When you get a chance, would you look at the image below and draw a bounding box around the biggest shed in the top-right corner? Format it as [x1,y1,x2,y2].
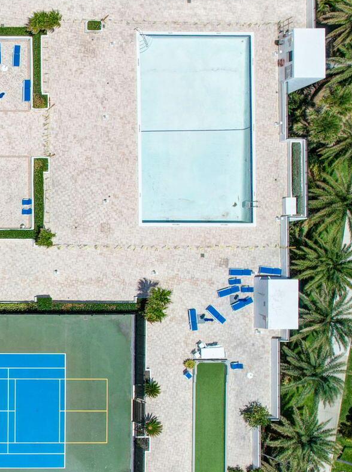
[278,28,326,85]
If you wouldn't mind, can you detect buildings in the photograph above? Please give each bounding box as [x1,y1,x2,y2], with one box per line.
[275,198,295,214]
[278,28,326,85]
[254,279,298,329]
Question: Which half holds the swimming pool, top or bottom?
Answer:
top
